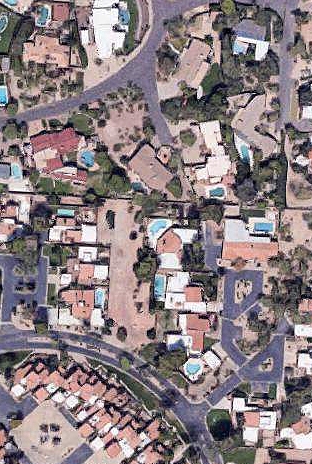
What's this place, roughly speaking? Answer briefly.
residential area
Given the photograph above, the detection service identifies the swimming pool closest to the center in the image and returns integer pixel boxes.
[147,218,172,239]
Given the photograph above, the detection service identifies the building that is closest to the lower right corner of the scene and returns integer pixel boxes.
[280,402,312,450]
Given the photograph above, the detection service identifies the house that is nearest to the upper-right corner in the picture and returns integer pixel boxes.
[231,18,268,60]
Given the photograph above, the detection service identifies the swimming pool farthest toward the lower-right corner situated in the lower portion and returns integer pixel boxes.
[182,358,204,379]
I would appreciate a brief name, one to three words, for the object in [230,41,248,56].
swimming pool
